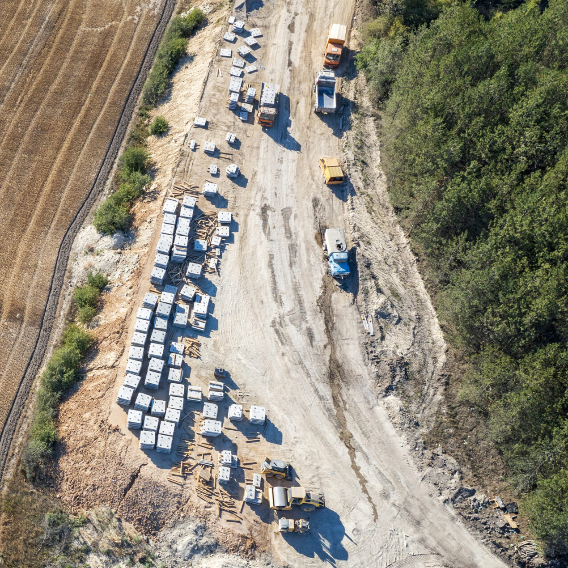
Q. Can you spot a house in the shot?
No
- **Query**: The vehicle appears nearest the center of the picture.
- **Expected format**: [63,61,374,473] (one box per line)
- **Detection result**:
[321,229,348,282]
